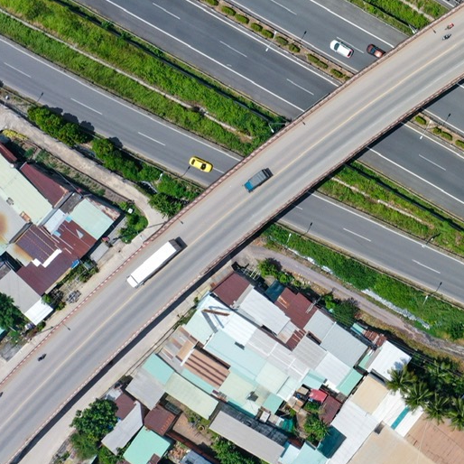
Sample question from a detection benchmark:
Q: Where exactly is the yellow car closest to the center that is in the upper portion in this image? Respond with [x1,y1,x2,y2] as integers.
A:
[189,155,215,173]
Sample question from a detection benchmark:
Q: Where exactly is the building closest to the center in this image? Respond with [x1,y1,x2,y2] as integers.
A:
[211,270,254,304]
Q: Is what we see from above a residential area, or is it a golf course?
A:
residential area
